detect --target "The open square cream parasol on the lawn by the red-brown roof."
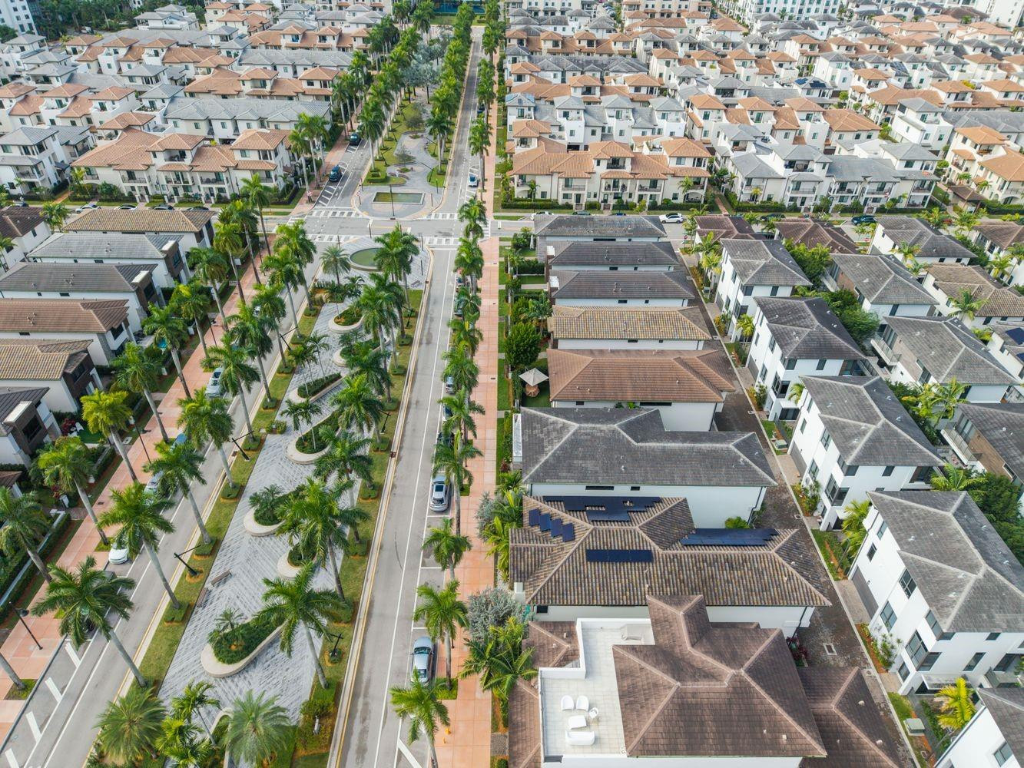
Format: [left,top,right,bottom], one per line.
[517,369,548,394]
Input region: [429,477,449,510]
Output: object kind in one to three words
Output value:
car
